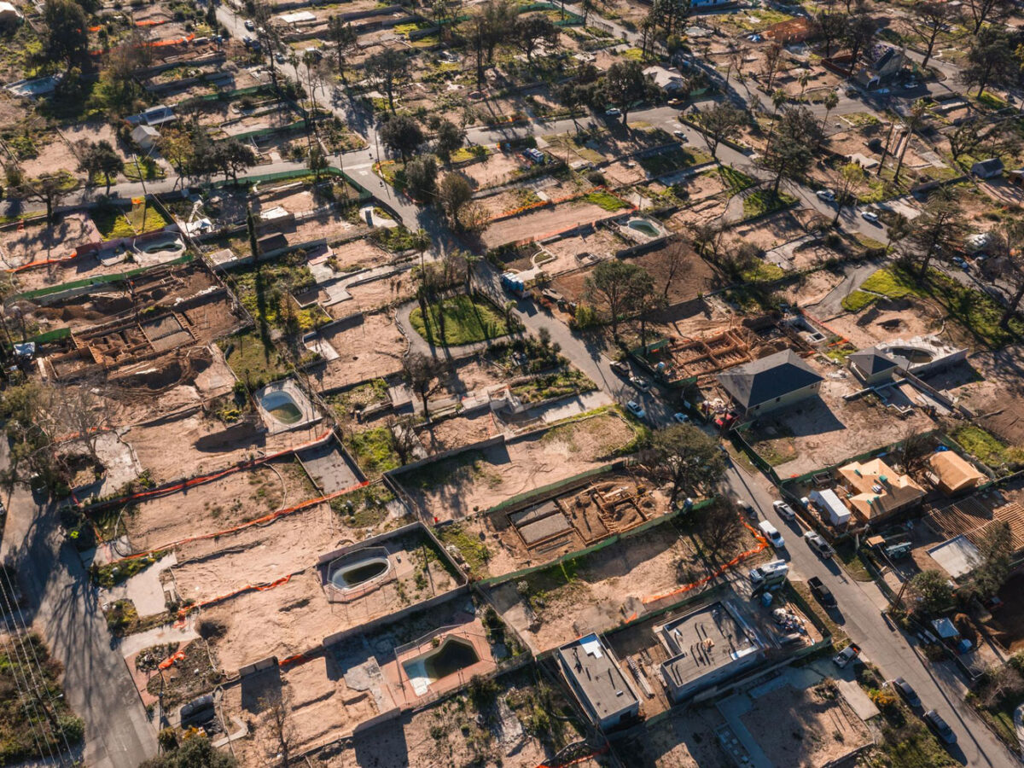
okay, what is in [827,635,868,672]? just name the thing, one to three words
truck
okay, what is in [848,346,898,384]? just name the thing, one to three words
building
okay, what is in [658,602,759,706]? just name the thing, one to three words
house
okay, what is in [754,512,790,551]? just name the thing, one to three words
van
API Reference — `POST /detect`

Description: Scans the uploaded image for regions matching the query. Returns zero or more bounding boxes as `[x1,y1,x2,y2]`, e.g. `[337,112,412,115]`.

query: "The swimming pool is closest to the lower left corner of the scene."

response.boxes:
[322,546,399,604]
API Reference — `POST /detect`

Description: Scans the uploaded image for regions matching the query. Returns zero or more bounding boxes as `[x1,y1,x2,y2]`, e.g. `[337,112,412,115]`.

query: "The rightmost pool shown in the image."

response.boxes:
[876,341,950,372]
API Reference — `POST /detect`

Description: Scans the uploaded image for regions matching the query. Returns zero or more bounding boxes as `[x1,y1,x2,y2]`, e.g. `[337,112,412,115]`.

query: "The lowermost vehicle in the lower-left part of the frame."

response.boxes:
[174,693,220,722]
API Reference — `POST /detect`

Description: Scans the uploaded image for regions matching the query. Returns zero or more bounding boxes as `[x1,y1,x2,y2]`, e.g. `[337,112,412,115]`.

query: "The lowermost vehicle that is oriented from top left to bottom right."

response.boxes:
[921,704,965,750]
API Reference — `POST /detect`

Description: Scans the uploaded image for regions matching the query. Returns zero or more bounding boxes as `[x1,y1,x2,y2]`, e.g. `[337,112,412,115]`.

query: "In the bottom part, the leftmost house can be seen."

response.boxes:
[558,633,639,737]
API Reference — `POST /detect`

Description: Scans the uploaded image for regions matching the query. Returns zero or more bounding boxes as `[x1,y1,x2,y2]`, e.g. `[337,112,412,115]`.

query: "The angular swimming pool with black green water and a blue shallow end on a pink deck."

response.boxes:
[383,624,495,703]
